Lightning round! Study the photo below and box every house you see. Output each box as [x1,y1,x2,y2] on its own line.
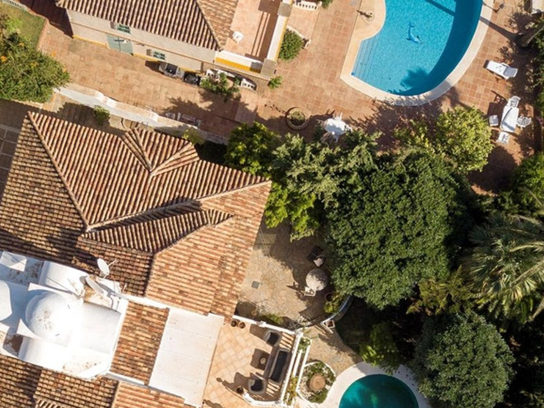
[0,111,273,408]
[54,0,303,93]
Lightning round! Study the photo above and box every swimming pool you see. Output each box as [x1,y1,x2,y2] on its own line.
[338,374,419,408]
[352,0,487,94]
